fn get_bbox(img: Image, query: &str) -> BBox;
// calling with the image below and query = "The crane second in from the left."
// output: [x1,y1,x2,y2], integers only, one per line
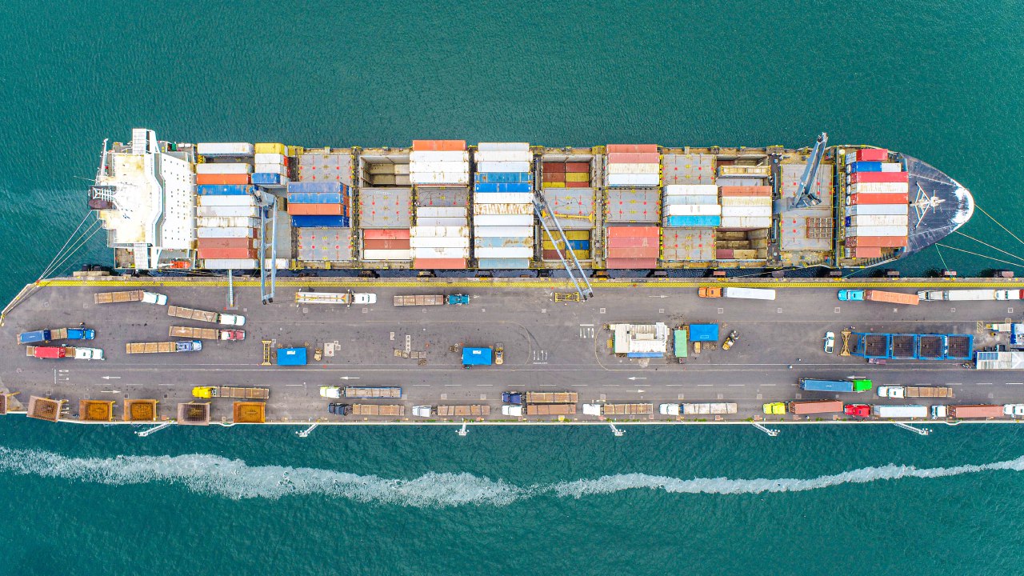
[529,188,592,302]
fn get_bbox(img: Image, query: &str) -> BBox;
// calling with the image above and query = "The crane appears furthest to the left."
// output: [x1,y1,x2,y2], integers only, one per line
[258,190,288,306]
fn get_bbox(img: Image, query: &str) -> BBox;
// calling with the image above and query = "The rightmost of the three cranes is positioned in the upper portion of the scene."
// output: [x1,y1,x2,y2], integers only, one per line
[772,129,826,216]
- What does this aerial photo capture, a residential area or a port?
port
